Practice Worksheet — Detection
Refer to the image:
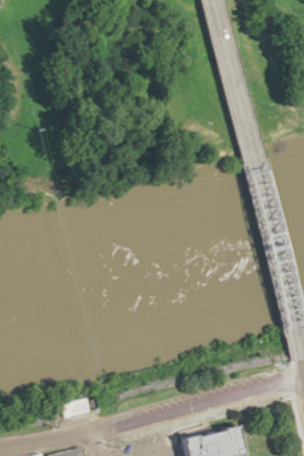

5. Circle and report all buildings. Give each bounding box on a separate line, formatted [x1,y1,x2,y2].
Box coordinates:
[62,398,96,419]
[181,424,250,456]
[40,446,80,456]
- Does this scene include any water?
Yes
